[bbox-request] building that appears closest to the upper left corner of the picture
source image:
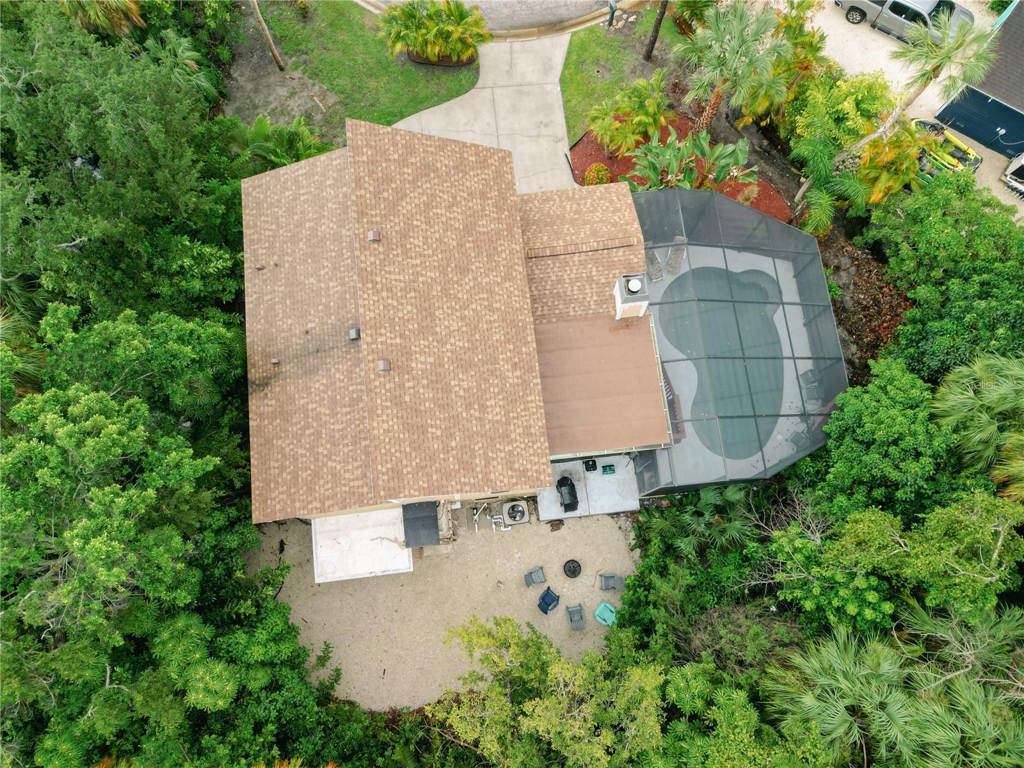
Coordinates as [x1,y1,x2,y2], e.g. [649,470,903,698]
[242,120,675,583]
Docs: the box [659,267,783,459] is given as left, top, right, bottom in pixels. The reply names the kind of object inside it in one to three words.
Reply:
swimming pool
